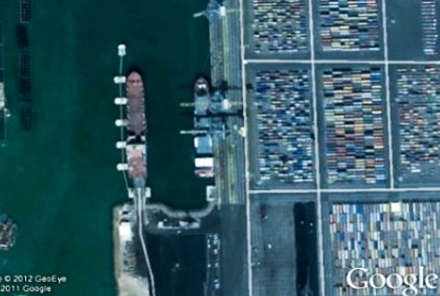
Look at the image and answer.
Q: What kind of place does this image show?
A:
port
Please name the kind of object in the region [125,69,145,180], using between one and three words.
ship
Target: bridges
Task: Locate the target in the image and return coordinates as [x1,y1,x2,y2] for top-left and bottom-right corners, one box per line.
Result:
[135,180,153,296]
